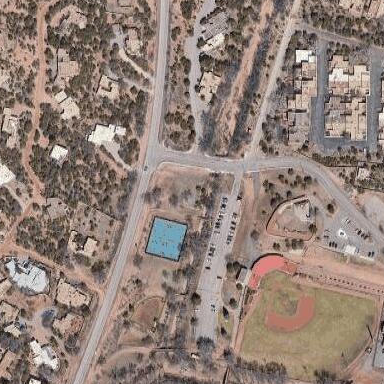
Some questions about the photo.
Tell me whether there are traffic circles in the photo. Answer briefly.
No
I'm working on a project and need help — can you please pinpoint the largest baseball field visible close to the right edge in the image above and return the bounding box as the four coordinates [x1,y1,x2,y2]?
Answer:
[235,269,379,382]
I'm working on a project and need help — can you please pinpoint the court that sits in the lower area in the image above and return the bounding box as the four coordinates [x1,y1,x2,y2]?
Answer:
[146,216,187,261]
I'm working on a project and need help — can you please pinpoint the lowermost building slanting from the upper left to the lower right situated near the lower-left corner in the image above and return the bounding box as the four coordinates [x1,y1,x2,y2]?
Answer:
[26,339,60,368]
